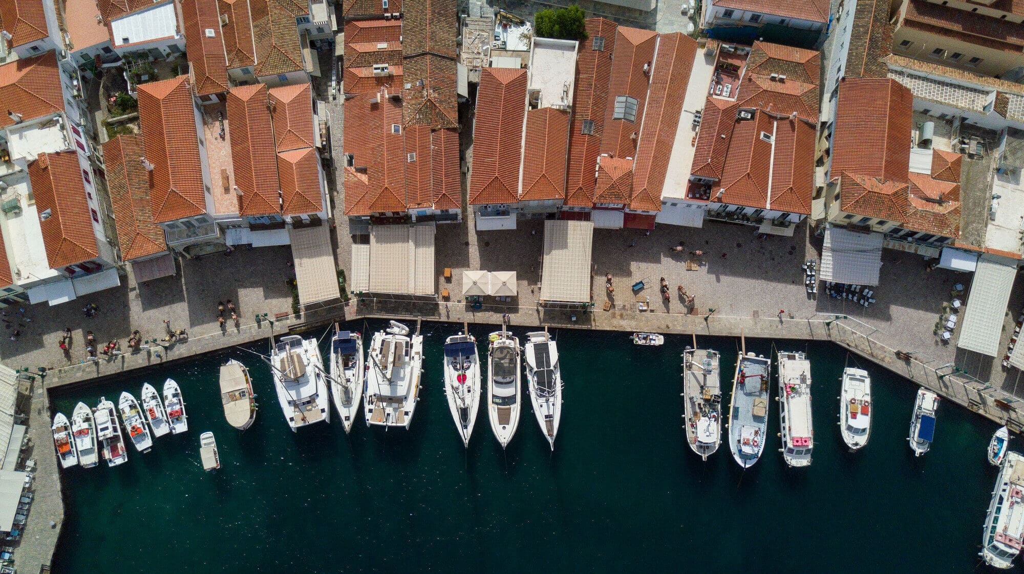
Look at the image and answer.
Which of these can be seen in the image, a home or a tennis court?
home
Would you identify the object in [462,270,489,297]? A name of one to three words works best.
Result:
umbrella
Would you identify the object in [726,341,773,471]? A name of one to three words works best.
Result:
boat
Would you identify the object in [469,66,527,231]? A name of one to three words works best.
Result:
house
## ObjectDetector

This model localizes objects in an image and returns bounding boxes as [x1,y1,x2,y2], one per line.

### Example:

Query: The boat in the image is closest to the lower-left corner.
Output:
[200,432,220,473]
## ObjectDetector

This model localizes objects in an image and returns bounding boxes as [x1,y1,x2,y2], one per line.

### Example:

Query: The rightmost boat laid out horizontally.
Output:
[630,333,664,345]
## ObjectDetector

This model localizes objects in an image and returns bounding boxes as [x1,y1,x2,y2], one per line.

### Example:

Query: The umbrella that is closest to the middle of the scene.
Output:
[490,271,517,297]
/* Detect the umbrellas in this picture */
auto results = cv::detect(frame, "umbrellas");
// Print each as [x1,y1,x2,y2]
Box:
[490,271,517,297]
[462,270,489,297]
